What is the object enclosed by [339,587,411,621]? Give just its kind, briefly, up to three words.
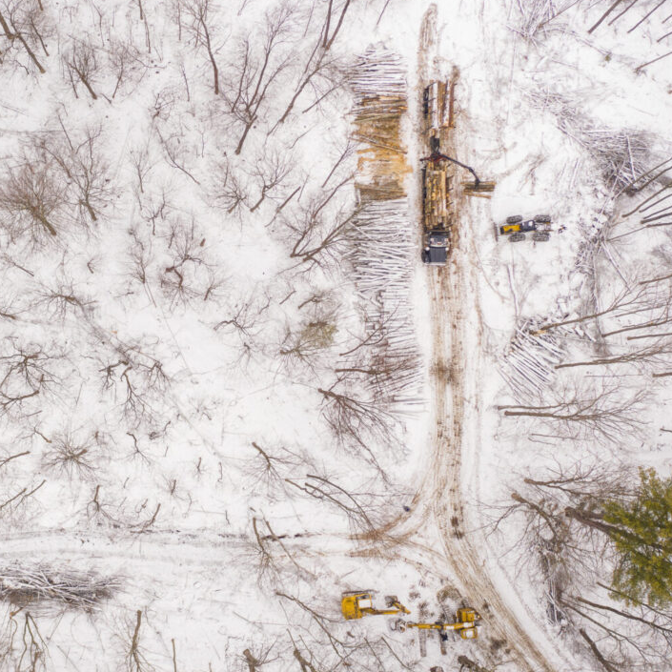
work vehicle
